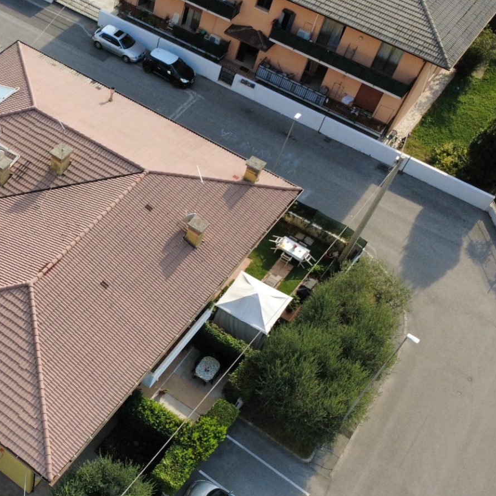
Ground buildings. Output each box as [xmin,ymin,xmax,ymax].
[0,41,305,495]
[116,0,496,142]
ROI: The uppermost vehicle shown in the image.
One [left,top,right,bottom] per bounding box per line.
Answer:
[92,25,148,64]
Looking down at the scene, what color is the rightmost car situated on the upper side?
black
